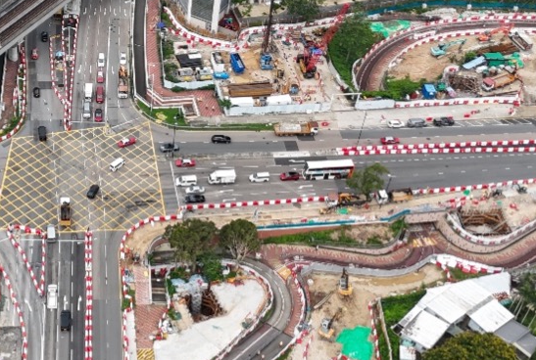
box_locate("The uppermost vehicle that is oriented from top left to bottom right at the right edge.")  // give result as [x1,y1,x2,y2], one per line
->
[511,26,534,45]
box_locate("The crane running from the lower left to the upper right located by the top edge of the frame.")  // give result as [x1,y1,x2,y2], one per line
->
[299,18,345,72]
